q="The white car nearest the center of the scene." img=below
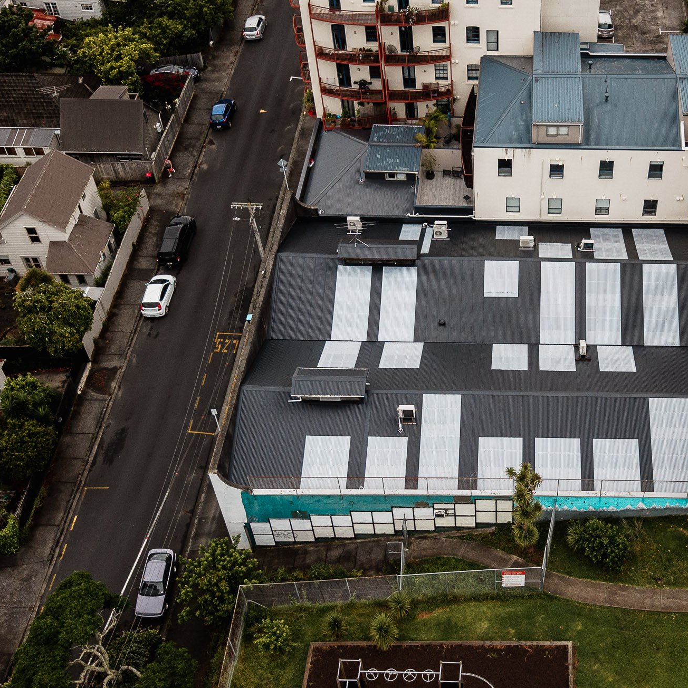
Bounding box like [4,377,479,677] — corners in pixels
[139,278,178,322]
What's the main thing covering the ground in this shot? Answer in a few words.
buildings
